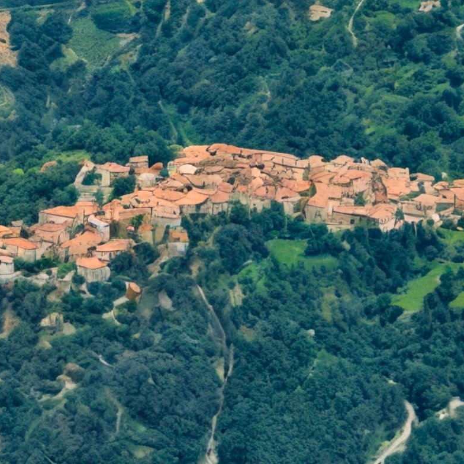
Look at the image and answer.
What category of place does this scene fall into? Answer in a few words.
residential area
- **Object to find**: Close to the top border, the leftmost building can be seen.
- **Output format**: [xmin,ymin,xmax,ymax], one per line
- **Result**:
[307,1,331,23]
